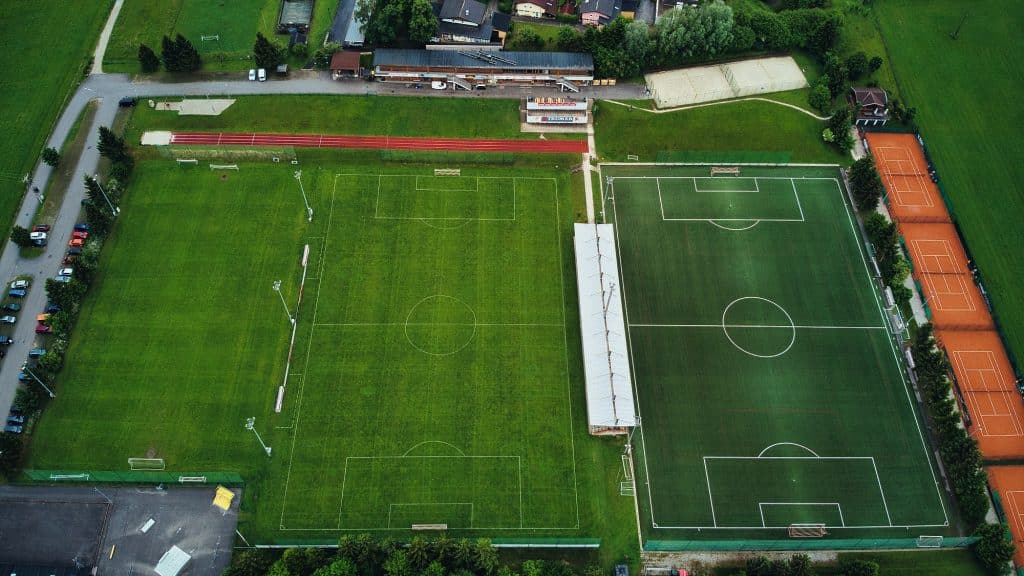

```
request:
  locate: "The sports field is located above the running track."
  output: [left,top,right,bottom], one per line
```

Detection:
[112,0,267,58]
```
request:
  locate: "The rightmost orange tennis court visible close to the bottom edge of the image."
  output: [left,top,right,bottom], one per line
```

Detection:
[989,463,1024,555]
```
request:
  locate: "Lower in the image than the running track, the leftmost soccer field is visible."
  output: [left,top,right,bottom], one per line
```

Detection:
[262,162,637,551]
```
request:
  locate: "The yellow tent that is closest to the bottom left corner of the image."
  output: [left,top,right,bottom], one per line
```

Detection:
[210,484,236,512]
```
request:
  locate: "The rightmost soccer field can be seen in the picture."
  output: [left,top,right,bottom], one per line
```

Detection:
[597,163,973,549]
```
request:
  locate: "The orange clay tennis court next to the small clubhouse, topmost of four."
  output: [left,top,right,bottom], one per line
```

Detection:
[863,133,952,219]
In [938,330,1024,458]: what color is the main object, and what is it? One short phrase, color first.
orange tennis court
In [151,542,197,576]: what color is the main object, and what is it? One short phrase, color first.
white tent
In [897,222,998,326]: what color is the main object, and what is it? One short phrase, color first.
orange tennis court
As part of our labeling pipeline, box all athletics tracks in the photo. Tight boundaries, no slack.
[167,134,589,152]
